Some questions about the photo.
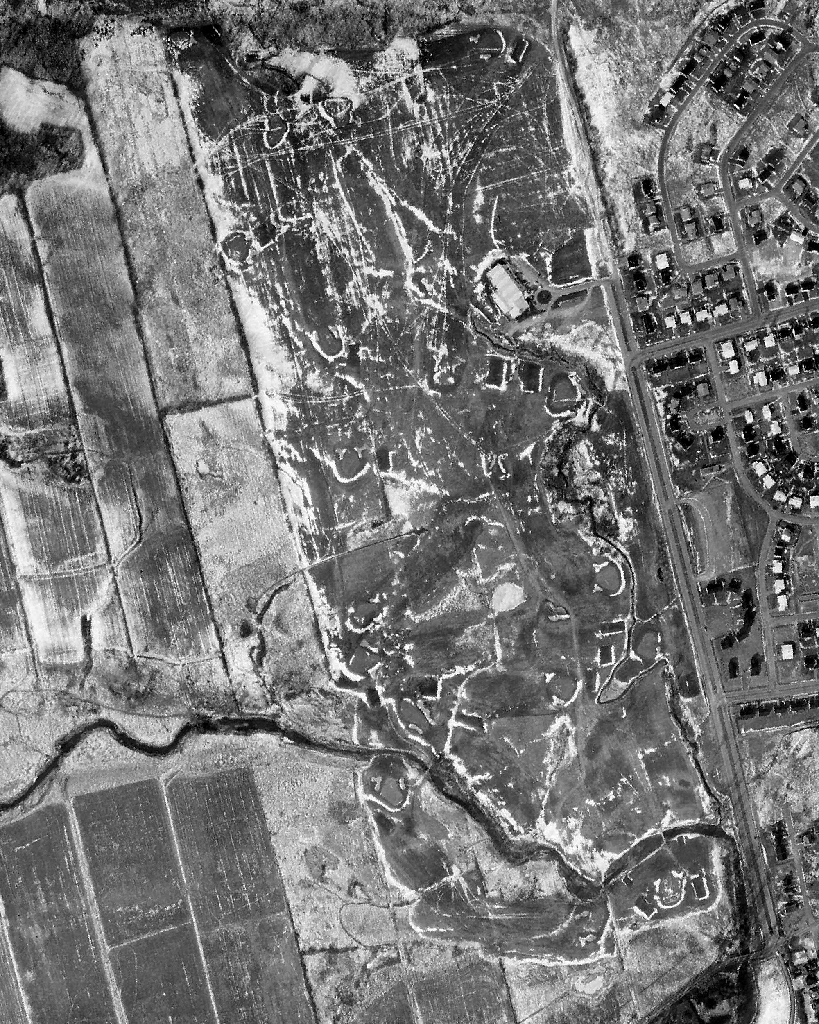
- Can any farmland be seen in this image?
Yes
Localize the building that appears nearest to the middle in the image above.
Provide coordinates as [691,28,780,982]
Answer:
[487,264,530,317]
